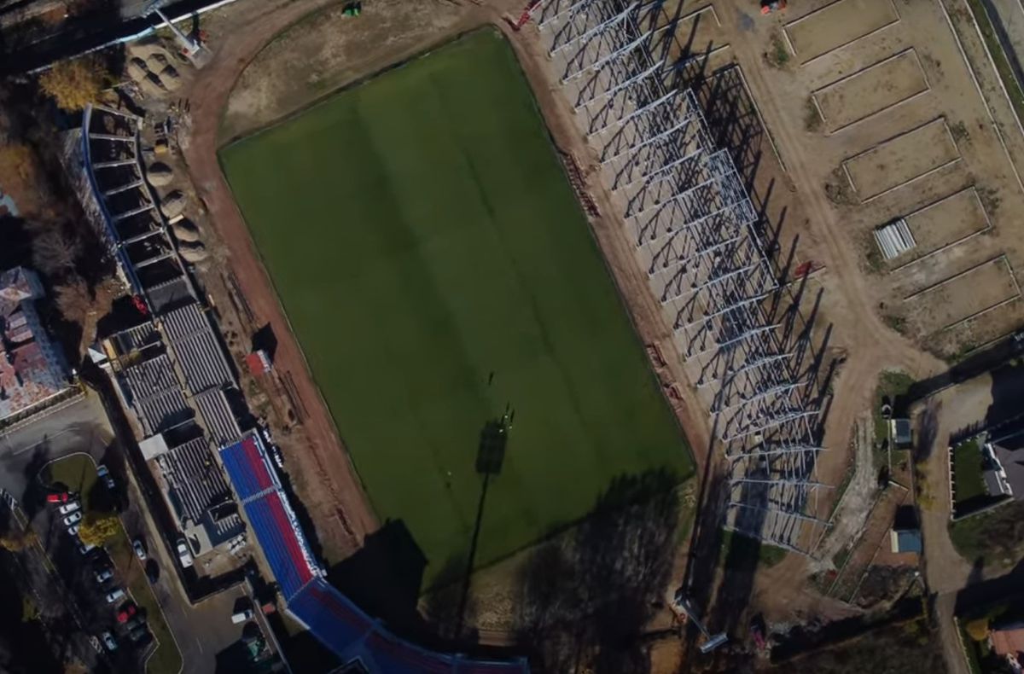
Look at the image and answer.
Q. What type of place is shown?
sports ground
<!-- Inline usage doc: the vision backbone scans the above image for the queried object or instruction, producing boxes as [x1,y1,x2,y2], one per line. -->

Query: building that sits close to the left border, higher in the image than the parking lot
[0,265,86,413]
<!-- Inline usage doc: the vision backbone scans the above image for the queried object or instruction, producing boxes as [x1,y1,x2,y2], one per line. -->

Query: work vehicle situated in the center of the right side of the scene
[795,261,824,280]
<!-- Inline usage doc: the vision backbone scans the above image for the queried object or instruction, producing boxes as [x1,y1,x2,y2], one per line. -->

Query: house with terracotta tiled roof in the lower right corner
[980,603,1024,663]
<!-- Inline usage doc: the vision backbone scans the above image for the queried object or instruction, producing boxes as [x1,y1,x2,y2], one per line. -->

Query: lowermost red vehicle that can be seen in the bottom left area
[115,608,134,622]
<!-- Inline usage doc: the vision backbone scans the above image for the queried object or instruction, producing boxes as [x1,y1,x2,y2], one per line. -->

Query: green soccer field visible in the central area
[217,25,695,593]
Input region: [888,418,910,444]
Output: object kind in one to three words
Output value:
shed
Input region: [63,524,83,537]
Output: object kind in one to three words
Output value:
vehicle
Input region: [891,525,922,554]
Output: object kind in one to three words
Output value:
shed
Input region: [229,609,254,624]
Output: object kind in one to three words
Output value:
vehicle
